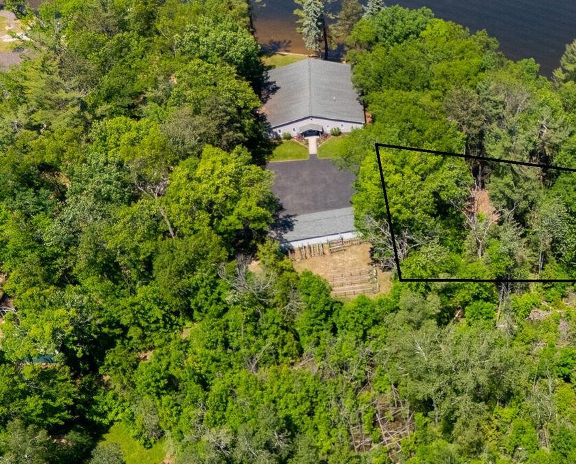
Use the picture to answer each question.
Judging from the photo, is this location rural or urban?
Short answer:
rural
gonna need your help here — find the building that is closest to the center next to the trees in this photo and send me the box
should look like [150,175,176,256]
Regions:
[278,207,367,252]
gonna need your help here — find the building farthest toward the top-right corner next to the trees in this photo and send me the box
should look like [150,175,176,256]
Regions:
[271,60,369,143]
